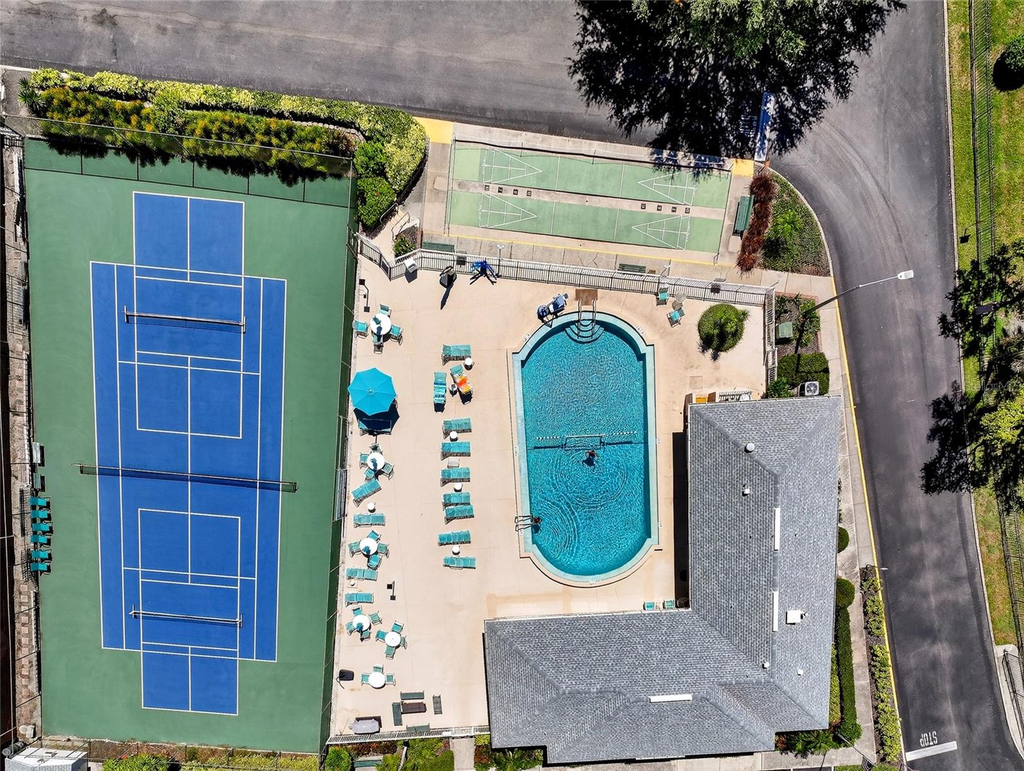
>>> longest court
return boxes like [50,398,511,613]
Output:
[24,138,347,755]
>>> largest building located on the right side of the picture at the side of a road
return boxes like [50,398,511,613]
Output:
[482,386,842,765]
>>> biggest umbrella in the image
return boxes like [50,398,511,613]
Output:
[350,365,399,416]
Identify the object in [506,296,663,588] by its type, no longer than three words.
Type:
swimming pool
